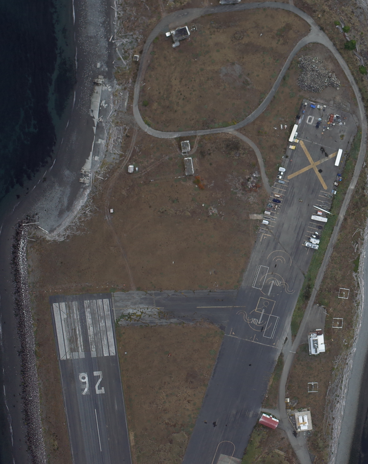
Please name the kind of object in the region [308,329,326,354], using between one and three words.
building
